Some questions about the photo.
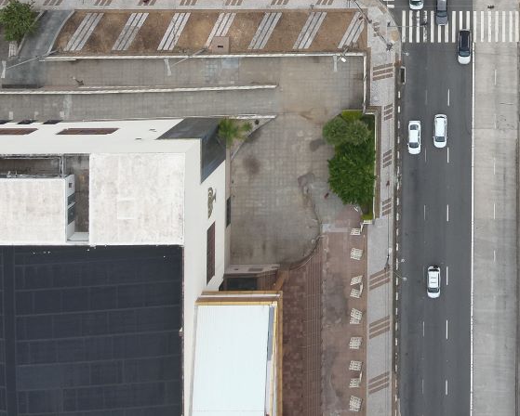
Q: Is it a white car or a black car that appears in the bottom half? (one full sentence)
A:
Visible in the bottom half is a white car.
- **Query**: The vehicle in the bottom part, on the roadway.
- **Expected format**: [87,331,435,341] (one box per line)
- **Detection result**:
[425,265,442,296]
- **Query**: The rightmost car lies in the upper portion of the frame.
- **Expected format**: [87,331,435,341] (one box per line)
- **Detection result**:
[456,29,473,63]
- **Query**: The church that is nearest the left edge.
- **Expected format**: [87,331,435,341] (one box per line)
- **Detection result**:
[0,120,234,416]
